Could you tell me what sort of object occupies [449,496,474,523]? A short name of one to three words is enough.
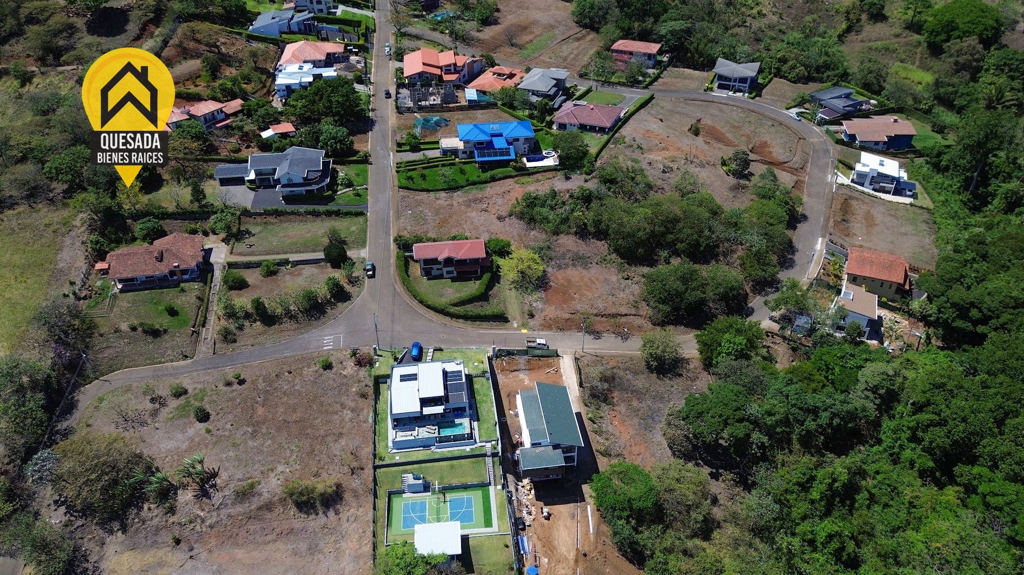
sports court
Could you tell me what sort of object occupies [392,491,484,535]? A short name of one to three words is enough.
sports court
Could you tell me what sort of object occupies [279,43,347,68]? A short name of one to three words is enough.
house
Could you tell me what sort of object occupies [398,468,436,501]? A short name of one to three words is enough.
shed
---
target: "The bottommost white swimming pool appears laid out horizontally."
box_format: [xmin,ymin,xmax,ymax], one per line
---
[522,149,556,167]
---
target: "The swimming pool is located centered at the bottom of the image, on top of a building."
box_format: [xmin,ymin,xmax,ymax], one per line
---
[437,420,465,432]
